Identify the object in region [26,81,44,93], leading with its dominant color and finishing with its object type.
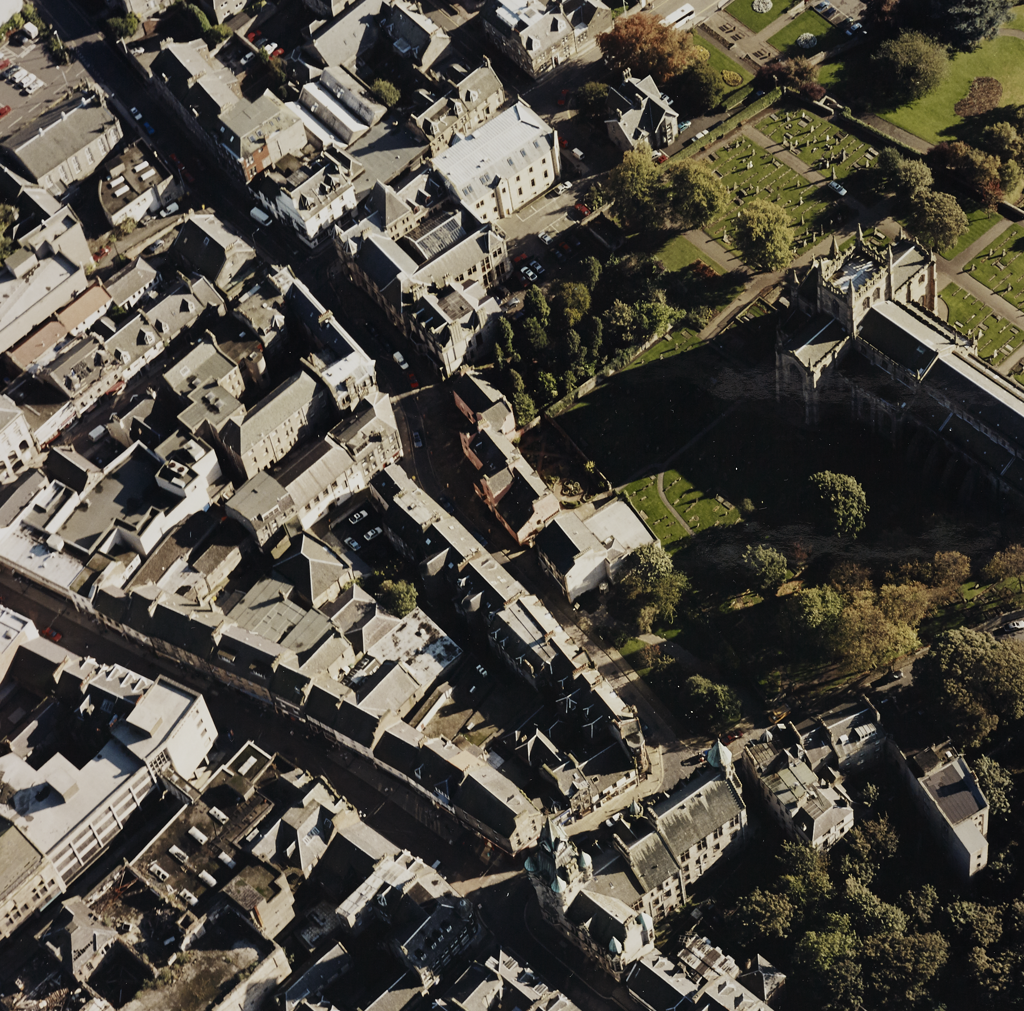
white vehicle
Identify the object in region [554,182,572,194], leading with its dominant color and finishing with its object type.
white vehicle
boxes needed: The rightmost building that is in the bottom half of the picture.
[913,751,989,870]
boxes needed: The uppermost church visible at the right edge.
[771,228,1024,559]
